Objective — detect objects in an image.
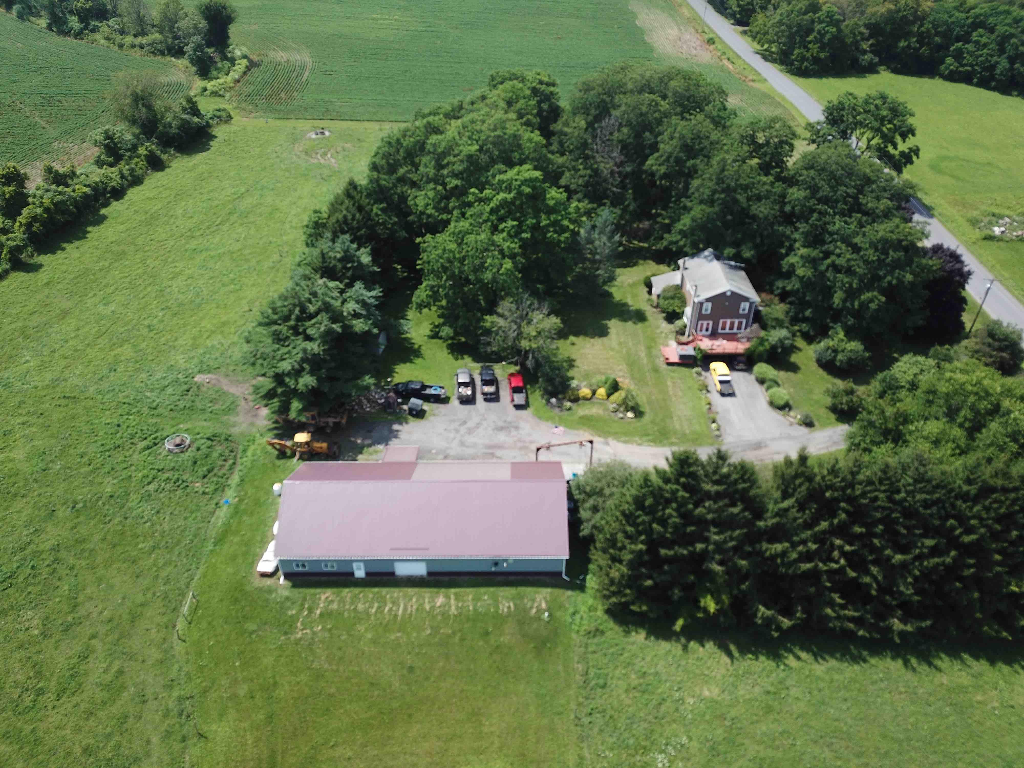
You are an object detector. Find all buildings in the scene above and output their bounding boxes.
[273,446,570,584]
[648,246,759,352]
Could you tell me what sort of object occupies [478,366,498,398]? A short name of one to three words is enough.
vehicle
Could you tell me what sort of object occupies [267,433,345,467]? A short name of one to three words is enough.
work vehicle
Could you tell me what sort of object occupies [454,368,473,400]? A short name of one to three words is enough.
vehicle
